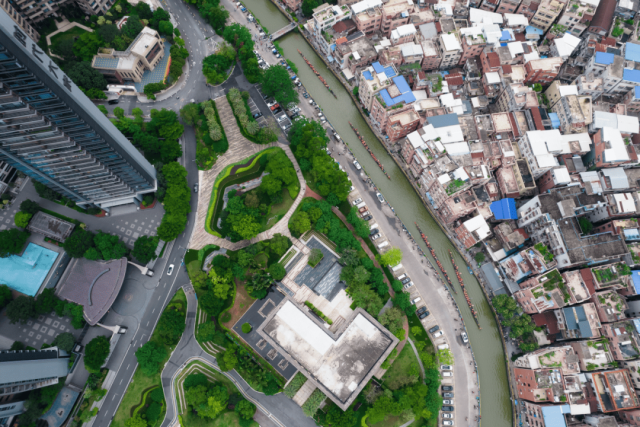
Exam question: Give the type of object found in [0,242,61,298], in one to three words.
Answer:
swimming pool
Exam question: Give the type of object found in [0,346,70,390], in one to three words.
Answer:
building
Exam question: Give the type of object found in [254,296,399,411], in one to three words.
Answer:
building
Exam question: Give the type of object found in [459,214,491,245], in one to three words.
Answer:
house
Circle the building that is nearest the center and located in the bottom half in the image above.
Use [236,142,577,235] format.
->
[314,264,342,298]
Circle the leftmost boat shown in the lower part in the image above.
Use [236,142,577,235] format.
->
[414,219,458,295]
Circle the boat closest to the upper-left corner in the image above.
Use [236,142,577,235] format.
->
[296,47,337,98]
